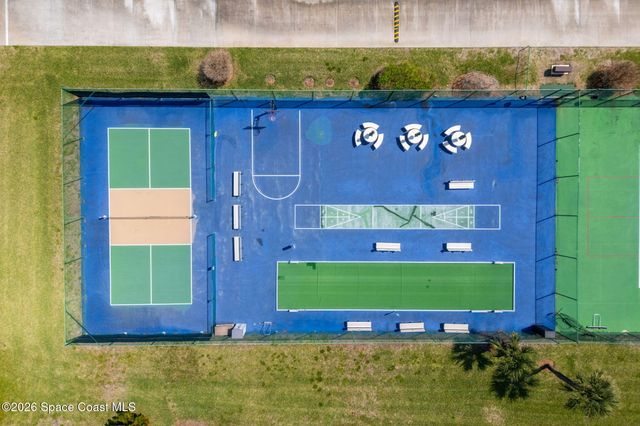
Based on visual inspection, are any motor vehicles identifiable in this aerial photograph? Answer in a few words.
No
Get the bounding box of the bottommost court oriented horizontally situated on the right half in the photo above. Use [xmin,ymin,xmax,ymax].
[276,261,516,313]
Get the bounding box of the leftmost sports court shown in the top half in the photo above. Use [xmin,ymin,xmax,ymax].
[109,129,149,188]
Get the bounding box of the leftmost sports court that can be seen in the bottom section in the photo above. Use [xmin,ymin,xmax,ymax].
[110,245,150,304]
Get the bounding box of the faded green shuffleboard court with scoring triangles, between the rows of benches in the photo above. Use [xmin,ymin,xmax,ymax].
[294,204,502,230]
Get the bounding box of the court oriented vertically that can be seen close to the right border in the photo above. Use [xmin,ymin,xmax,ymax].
[555,97,640,332]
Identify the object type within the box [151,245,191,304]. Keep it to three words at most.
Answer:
sports court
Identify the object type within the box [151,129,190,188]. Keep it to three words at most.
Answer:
sports court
